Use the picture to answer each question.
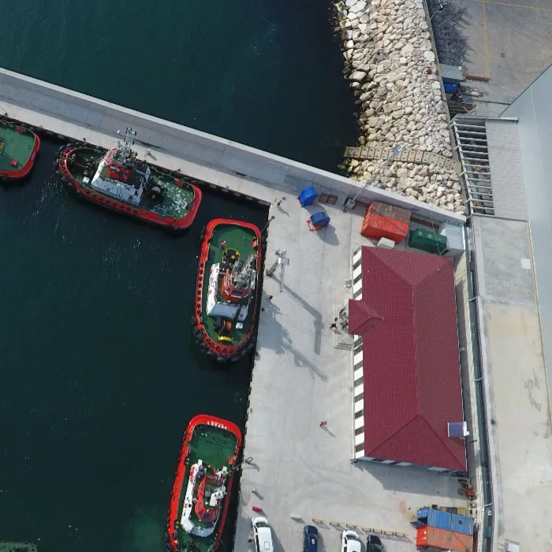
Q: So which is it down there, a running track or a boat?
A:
boat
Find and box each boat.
[0,541,37,552]
[0,125,41,182]
[54,135,200,232]
[194,222,264,363]
[167,415,240,552]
